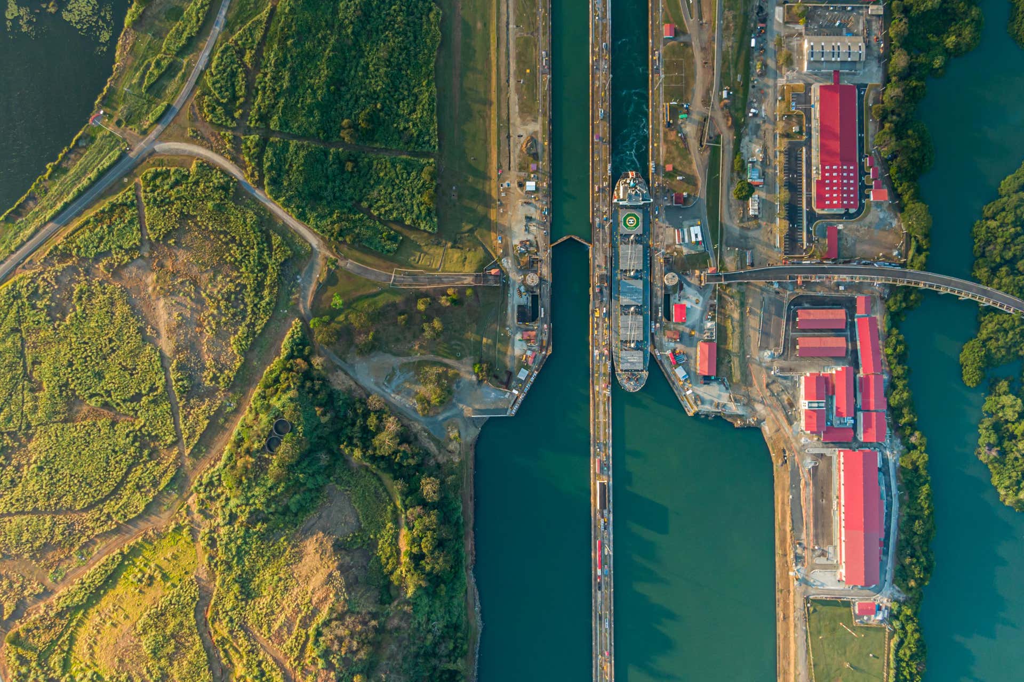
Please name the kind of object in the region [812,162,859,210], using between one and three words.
building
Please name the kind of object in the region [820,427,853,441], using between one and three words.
building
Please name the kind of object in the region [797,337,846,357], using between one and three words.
shed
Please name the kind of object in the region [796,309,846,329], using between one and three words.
shed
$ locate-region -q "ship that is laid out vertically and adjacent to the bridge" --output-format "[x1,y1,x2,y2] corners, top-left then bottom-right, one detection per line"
[612,171,652,392]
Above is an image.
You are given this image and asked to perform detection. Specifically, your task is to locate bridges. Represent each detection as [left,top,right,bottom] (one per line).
[705,265,1024,325]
